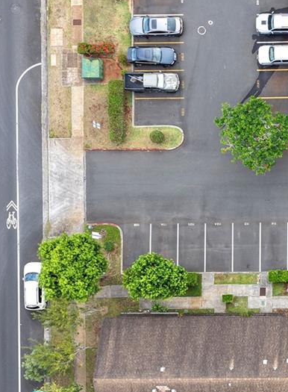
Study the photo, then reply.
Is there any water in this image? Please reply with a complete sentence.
No, no water is visible.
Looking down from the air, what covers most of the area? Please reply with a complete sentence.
The bulk of the photo consists of paved ground.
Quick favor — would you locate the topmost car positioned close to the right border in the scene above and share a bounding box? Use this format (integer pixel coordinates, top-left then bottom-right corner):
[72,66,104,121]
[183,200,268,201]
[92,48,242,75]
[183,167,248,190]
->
[255,9,288,36]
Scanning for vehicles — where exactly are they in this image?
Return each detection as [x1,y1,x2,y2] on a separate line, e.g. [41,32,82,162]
[126,42,177,66]
[255,9,288,36]
[128,10,184,37]
[254,41,288,68]
[122,69,183,94]
[20,260,49,312]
